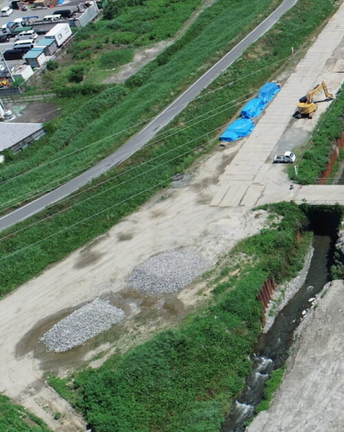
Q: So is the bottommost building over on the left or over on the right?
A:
left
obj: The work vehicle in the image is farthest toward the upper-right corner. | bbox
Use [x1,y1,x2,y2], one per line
[289,71,335,119]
